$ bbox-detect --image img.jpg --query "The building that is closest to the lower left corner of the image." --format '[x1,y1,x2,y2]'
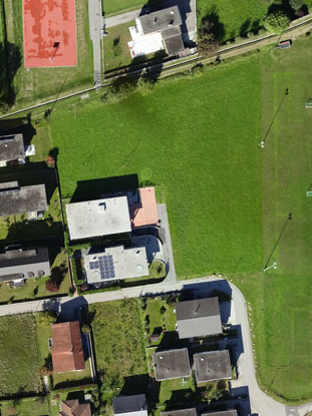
[59,394,92,416]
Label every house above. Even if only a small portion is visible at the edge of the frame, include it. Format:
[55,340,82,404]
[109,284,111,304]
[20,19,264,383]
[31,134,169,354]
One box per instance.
[113,393,149,416]
[153,348,191,381]
[0,134,27,161]
[202,409,238,416]
[59,394,92,416]
[128,7,185,59]
[84,246,150,283]
[66,196,133,240]
[0,245,52,282]
[175,296,224,339]
[0,181,50,216]
[49,320,86,373]
[160,407,198,416]
[194,350,231,383]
